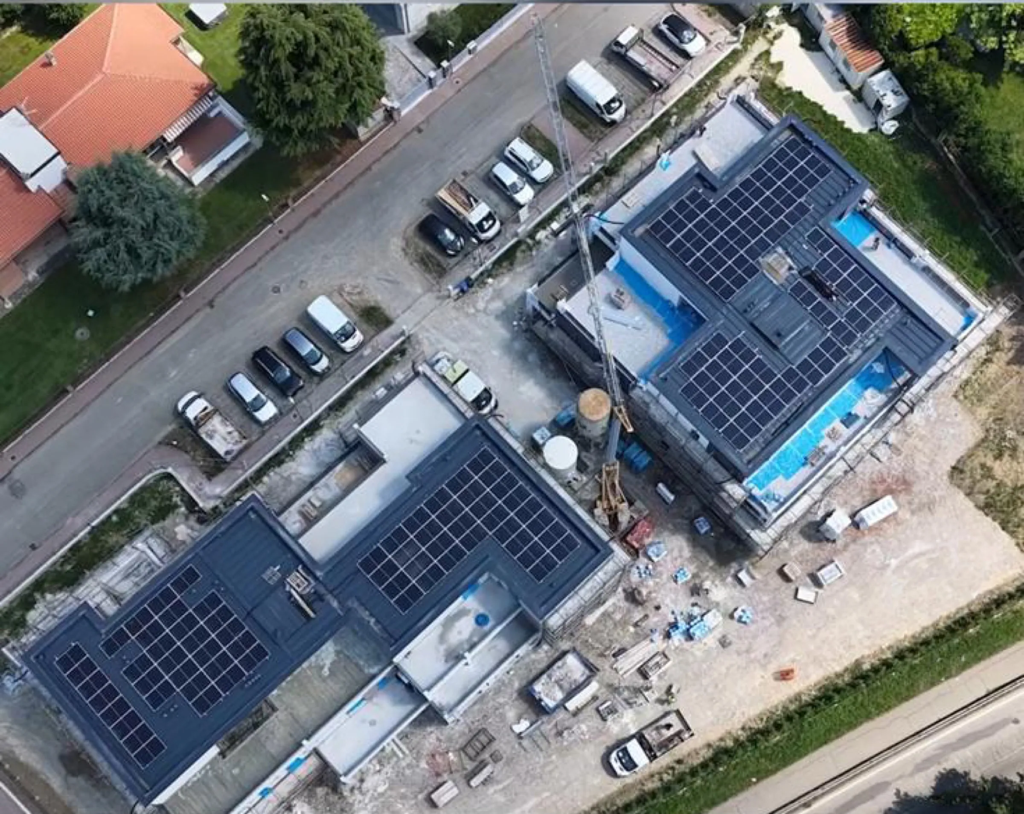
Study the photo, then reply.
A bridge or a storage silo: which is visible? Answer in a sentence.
There is a storage silo in the scene.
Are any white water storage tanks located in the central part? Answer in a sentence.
Yes, a white water storage tank appears in the central part.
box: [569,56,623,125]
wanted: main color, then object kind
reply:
white van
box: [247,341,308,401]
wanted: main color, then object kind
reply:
black car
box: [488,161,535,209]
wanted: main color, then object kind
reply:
white car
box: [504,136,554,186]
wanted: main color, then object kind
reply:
white car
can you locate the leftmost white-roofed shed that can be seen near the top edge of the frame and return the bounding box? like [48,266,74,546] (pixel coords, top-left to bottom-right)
[189,0,235,35]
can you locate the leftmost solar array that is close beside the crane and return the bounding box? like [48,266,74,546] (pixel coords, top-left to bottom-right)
[359,447,578,613]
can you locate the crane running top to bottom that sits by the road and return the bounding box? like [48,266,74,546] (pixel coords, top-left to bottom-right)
[531,12,640,534]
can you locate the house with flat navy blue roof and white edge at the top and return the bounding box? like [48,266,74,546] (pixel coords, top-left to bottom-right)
[348,0,416,61]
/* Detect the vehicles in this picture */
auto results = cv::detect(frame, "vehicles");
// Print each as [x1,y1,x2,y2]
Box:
[425,342,503,423]
[171,390,249,464]
[504,136,554,186]
[437,174,502,245]
[656,10,708,63]
[306,293,364,352]
[247,341,308,401]
[604,18,679,91]
[417,211,466,261]
[224,370,282,426]
[279,322,332,379]
[604,704,701,786]
[569,56,623,125]
[488,161,535,209]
